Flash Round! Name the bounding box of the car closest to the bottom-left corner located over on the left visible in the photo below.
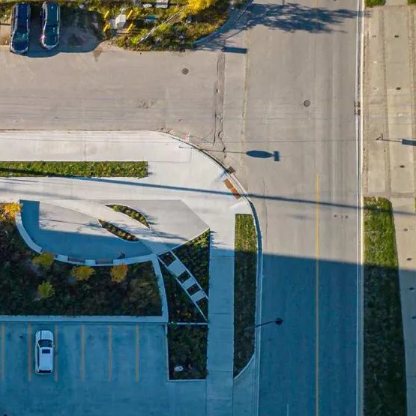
[33,329,55,375]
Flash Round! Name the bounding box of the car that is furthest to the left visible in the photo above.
[8,2,32,55]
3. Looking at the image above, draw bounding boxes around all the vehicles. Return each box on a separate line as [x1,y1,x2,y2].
[33,329,55,375]
[39,1,62,50]
[8,2,32,55]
